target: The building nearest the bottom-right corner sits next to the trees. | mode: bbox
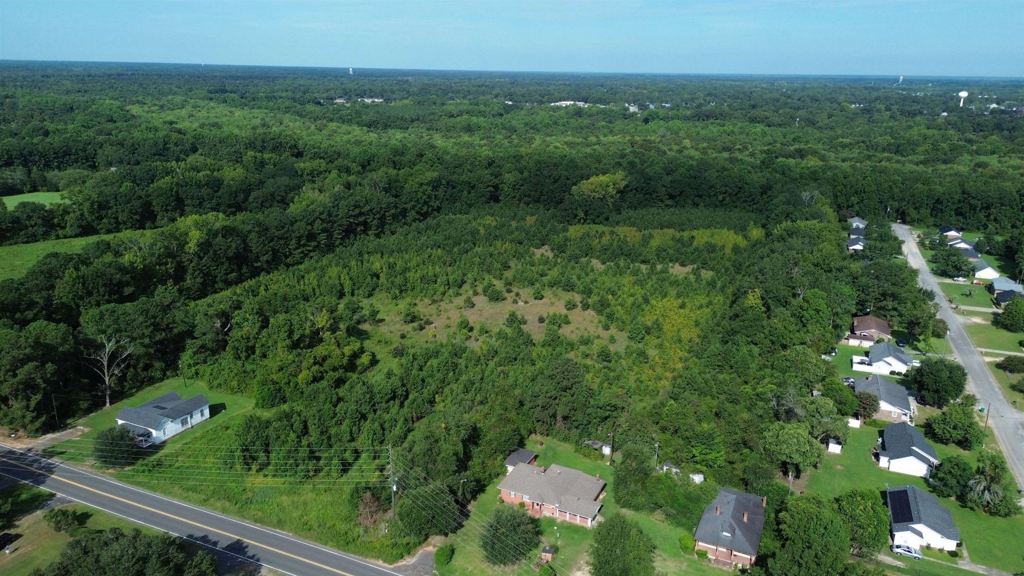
[886,479,968,549]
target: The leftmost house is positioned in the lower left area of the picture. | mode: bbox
[112,392,214,447]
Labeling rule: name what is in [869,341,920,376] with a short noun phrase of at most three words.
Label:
house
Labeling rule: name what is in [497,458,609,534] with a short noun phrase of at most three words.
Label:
house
